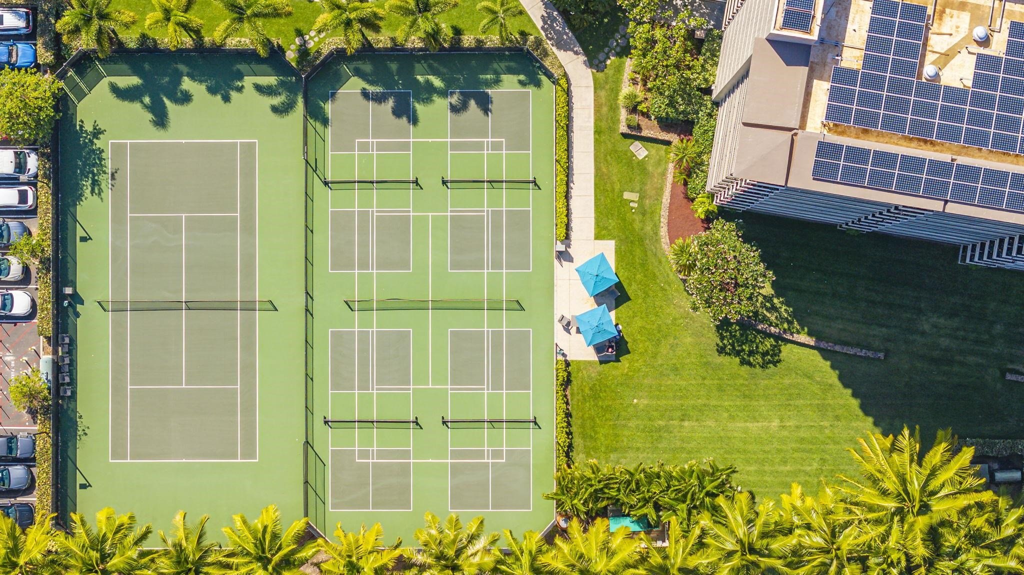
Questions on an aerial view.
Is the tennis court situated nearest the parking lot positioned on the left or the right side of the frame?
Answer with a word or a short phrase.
left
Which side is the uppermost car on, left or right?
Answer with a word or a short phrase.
left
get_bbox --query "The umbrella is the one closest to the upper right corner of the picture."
[575,252,619,297]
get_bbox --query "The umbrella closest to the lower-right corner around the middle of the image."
[576,304,618,346]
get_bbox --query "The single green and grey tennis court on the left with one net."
[59,53,306,548]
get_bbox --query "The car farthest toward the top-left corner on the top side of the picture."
[0,7,34,35]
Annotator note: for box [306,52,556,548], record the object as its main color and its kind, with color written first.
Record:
green tennis court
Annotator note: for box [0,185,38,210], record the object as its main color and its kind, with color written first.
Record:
white car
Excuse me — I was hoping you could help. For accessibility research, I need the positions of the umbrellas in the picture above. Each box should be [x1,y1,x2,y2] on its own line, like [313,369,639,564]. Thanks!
[576,304,618,346]
[575,252,619,297]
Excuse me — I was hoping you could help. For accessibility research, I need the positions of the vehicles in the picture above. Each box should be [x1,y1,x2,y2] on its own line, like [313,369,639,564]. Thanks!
[0,7,34,35]
[0,147,39,177]
[0,431,37,461]
[0,185,38,210]
[0,252,27,283]
[0,288,34,319]
[0,38,39,70]
[0,218,30,249]
[0,461,33,492]
[0,501,37,533]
